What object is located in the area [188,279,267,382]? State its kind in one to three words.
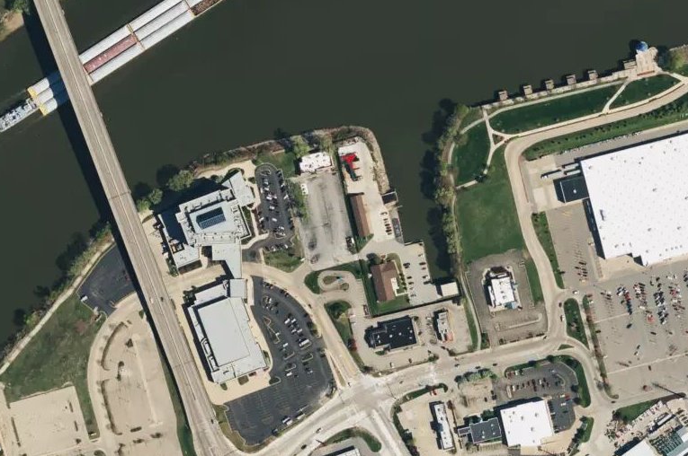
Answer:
building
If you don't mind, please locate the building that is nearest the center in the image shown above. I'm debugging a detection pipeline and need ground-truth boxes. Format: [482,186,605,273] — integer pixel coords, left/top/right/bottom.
[350,193,371,238]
